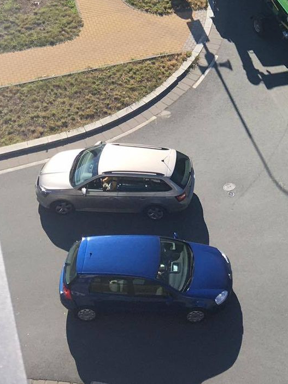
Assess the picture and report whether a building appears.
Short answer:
No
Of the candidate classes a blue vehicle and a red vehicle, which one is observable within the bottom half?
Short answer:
blue vehicle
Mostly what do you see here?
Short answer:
paved ground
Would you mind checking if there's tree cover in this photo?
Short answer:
No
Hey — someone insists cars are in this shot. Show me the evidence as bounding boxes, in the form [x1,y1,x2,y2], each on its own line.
[32,134,201,218]
[54,226,232,318]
